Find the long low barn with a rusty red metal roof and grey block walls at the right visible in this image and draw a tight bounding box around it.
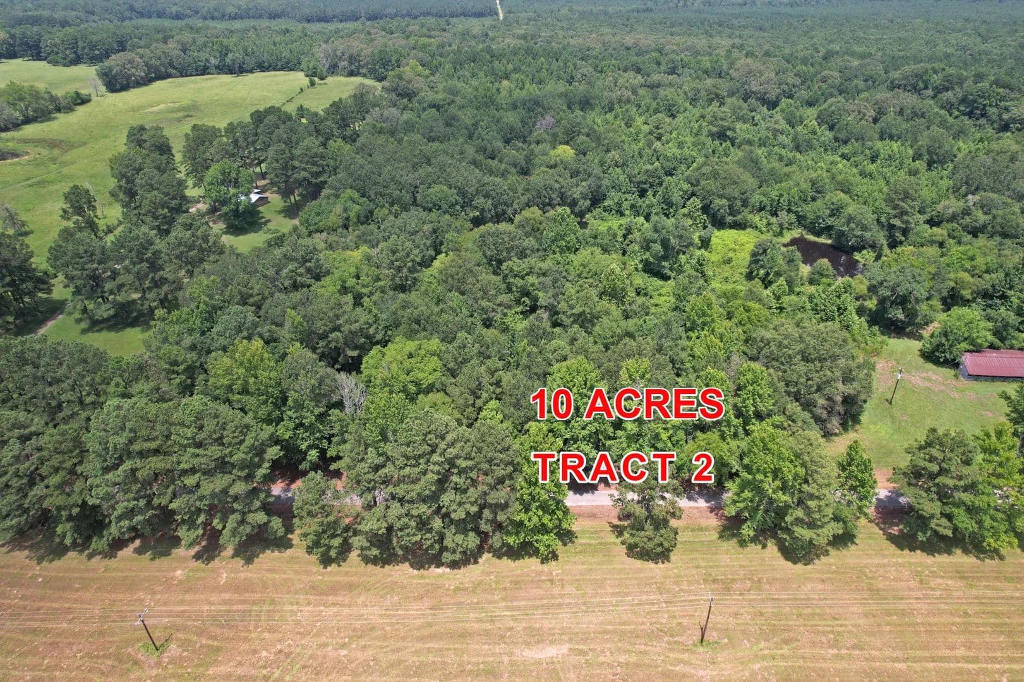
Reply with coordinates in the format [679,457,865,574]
[948,351,1024,383]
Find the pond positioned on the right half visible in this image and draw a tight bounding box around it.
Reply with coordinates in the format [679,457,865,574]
[782,235,865,279]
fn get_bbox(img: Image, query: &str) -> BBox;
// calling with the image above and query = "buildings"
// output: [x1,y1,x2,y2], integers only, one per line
[243,191,268,207]
[948,351,1024,383]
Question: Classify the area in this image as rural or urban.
rural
